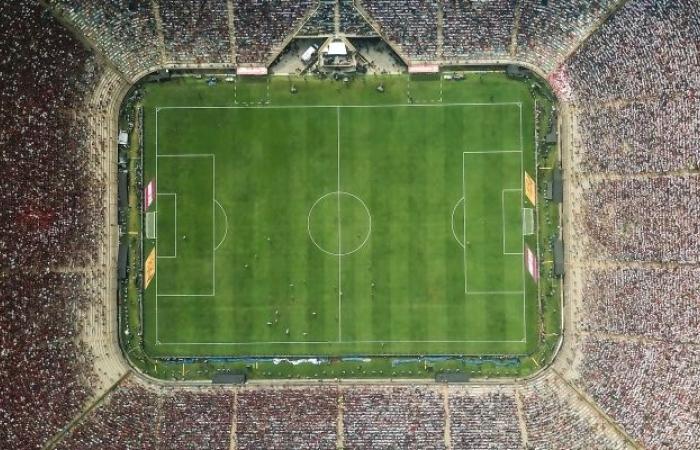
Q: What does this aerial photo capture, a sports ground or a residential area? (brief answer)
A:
sports ground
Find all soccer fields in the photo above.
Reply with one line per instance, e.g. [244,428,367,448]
[153,77,528,350]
